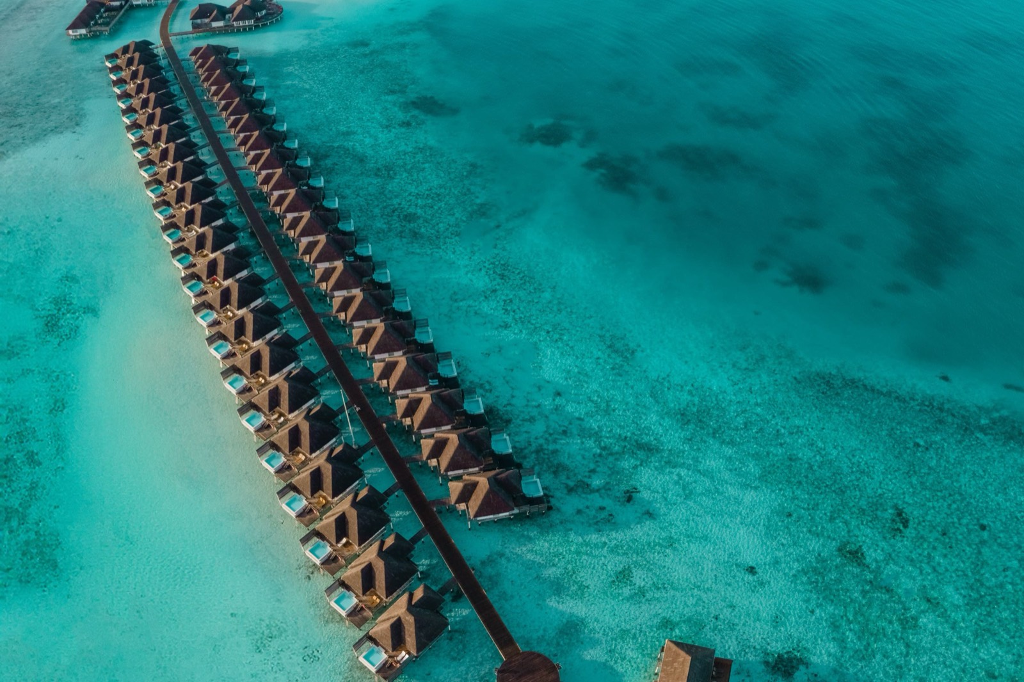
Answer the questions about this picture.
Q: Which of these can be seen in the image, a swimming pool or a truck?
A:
swimming pool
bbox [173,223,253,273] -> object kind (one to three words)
house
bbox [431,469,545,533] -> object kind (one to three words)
house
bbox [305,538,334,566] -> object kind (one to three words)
swimming pool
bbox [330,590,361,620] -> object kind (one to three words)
swimming pool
